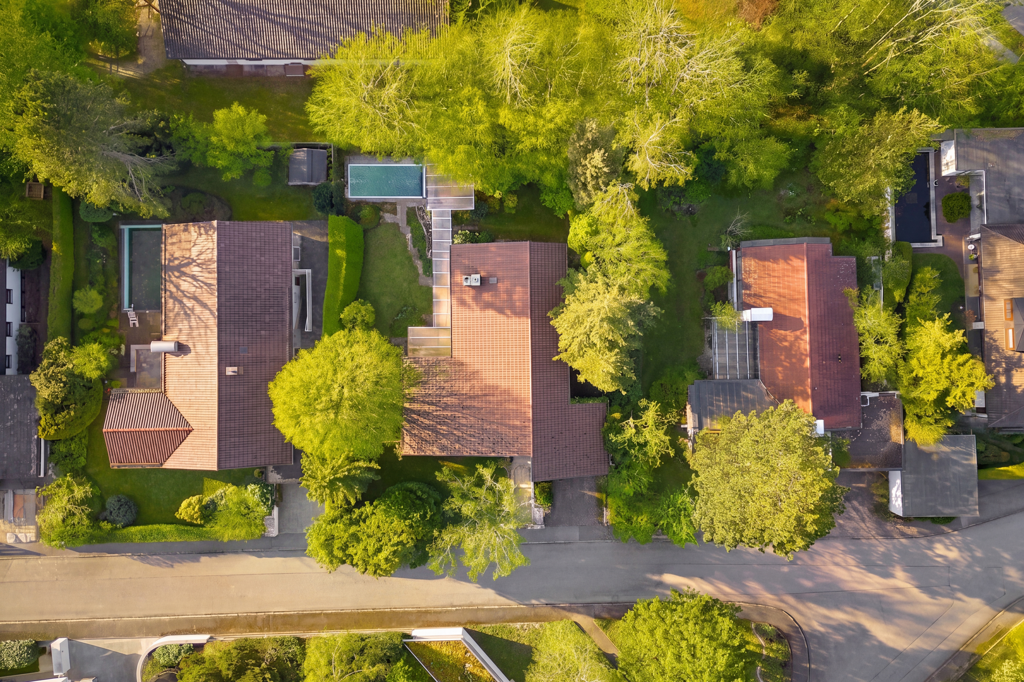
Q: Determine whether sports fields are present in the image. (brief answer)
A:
No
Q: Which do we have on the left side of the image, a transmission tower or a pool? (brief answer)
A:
pool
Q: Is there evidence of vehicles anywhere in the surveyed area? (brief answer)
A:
No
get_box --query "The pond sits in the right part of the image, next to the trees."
[893,146,944,246]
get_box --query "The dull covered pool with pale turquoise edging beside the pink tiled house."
[117,224,161,312]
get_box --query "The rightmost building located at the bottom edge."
[403,625,513,682]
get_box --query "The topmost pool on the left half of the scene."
[347,162,426,199]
